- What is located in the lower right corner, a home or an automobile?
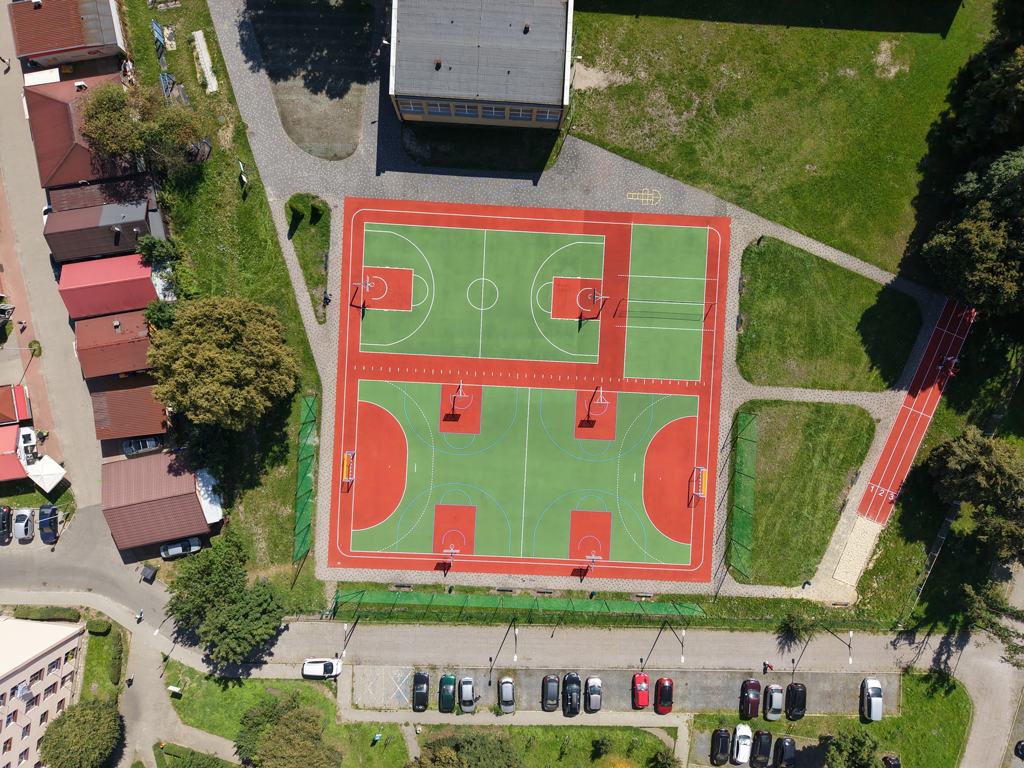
automobile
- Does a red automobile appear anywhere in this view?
Yes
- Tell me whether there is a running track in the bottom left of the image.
No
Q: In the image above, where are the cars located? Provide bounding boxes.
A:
[161,537,202,558]
[0,506,14,543]
[14,507,35,542]
[633,671,651,708]
[303,658,342,679]
[47,258,67,292]
[733,724,753,763]
[752,728,773,767]
[563,673,582,716]
[542,675,560,711]
[411,673,430,711]
[787,682,806,720]
[742,678,762,718]
[656,677,674,713]
[438,674,457,712]
[713,726,732,766]
[861,677,885,720]
[765,683,784,720]
[38,505,60,543]
[458,675,481,712]
[498,675,516,713]
[122,435,165,456]
[585,675,603,711]
[775,734,796,768]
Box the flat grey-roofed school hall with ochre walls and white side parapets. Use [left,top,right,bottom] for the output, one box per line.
[388,0,577,133]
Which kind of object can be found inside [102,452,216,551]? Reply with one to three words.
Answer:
house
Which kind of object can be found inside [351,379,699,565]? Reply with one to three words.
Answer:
sports court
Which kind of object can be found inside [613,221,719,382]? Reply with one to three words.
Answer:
sports court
